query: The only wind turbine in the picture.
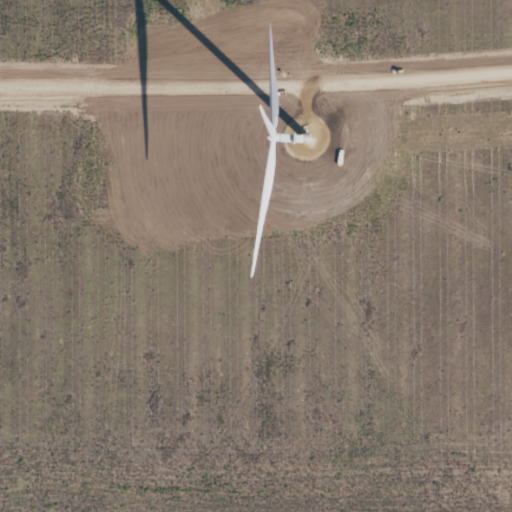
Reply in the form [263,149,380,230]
[252,28,320,275]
